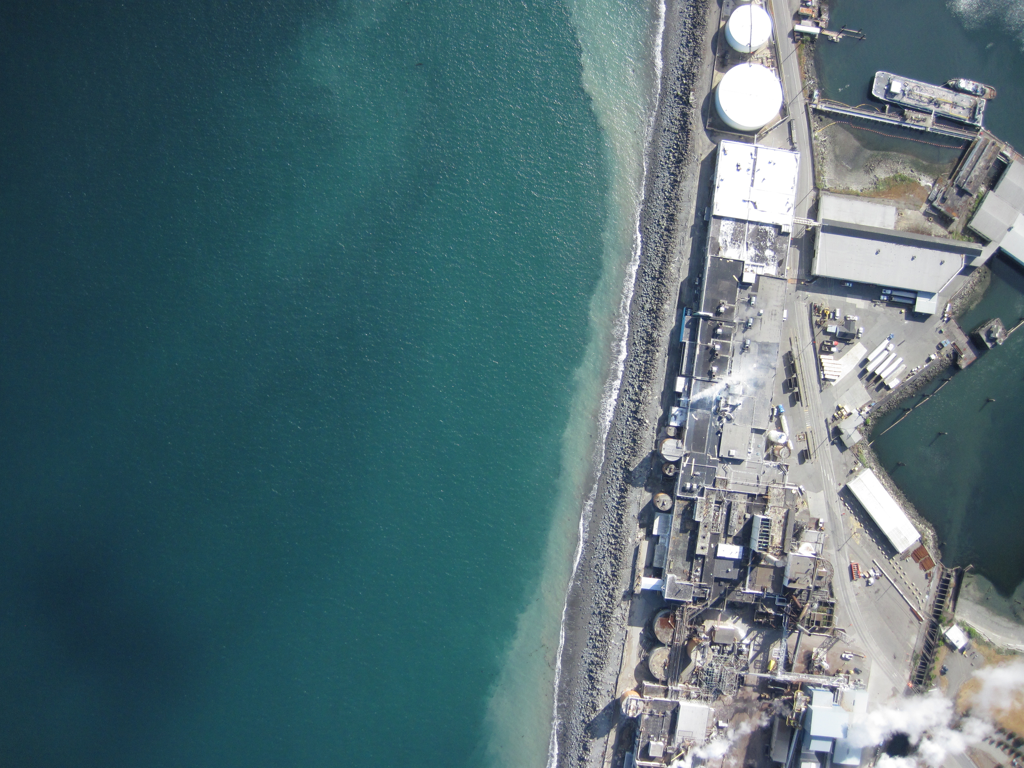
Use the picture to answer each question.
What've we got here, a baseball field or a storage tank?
storage tank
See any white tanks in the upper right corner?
Yes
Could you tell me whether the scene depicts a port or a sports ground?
port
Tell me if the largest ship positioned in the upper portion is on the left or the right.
right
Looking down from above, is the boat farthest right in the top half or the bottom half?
top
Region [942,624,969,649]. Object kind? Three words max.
house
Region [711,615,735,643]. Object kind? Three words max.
shed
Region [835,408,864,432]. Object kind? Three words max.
building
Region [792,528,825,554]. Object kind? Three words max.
building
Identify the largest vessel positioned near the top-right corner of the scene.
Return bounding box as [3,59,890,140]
[870,71,986,127]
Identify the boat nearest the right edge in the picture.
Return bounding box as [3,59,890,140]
[946,78,997,99]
